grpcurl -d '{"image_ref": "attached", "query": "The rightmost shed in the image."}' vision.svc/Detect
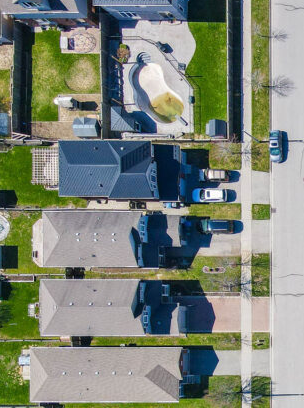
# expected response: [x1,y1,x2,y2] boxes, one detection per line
[206,118,228,139]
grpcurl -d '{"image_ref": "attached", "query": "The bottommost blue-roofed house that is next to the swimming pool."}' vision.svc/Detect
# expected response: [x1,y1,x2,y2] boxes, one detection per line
[57,140,189,201]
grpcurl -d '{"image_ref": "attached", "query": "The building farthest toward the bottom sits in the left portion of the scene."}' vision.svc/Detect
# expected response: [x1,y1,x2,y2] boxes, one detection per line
[30,347,201,402]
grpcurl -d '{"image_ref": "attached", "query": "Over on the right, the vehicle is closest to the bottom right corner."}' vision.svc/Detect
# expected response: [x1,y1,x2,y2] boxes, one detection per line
[203,218,236,234]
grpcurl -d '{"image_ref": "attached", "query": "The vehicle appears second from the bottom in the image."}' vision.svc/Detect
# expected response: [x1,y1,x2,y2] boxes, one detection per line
[193,187,229,203]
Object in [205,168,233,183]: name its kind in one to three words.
car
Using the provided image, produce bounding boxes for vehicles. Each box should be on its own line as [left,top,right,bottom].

[203,218,236,234]
[193,187,229,203]
[269,130,284,163]
[205,168,233,183]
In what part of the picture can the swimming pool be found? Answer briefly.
top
